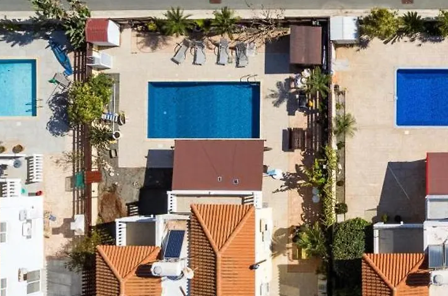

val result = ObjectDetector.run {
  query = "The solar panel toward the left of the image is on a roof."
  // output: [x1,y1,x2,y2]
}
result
[163,229,185,260]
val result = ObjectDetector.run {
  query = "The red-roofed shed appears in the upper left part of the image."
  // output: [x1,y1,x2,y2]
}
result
[85,18,118,47]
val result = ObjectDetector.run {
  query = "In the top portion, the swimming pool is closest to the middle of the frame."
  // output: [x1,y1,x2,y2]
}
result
[145,73,261,140]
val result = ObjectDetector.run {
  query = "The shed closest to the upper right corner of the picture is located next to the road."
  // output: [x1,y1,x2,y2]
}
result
[331,17,360,43]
